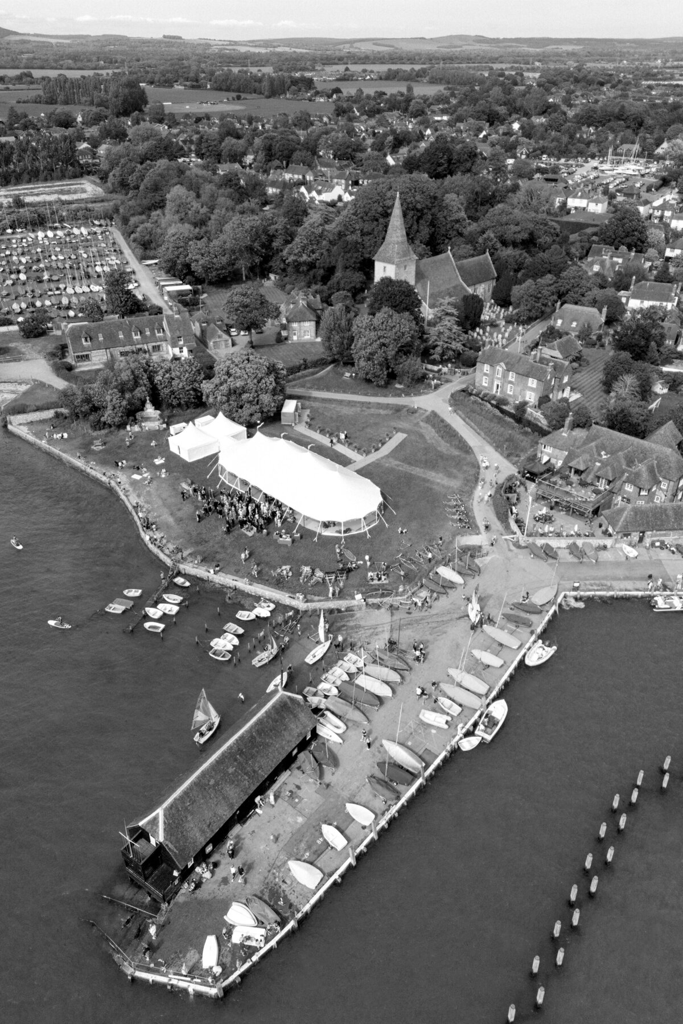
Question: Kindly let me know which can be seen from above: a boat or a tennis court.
boat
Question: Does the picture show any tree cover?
Yes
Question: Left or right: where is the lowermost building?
left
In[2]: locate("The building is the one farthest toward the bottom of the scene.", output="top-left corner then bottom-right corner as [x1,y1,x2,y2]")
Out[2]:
[120,687,317,908]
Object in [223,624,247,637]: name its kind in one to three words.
boat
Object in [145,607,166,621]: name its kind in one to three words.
boat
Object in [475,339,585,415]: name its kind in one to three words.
house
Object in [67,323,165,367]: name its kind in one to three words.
barn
